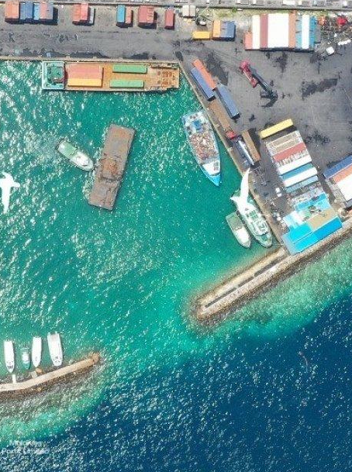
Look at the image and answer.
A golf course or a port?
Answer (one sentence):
The picture captures a port.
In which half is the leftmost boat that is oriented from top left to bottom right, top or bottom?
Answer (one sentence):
The leftmost boat that is oriented from top left to bottom right sits in the top half of the picture.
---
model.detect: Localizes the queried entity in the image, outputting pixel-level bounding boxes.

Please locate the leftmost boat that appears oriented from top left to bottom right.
[55,139,92,169]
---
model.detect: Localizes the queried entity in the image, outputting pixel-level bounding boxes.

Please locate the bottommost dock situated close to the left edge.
[0,355,94,389]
